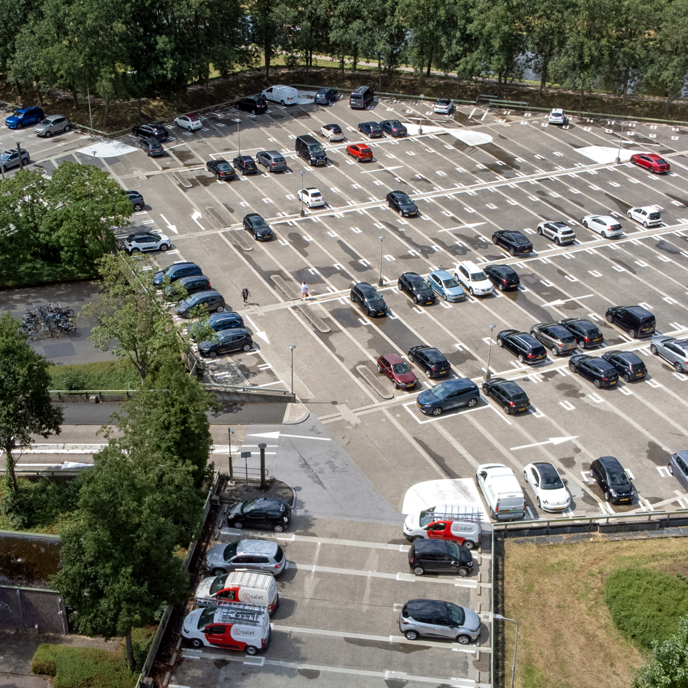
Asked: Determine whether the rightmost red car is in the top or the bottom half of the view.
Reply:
top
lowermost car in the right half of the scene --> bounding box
[397,598,478,645]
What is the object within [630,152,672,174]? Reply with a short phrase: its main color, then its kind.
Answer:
red car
